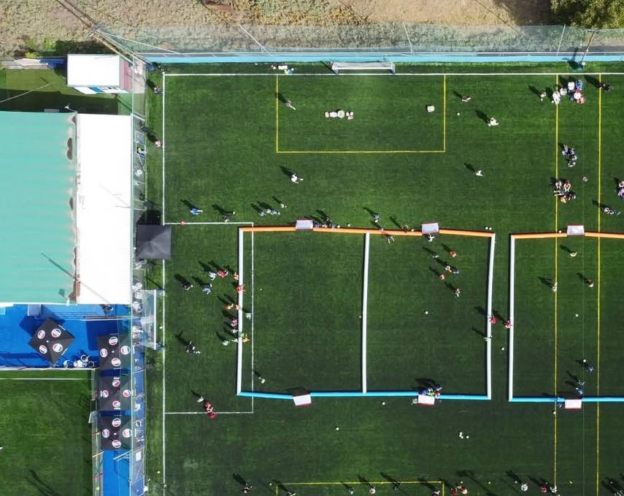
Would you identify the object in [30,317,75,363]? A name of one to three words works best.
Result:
umbrella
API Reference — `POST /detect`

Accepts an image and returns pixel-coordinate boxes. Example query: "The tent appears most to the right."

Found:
[137,225,179,260]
